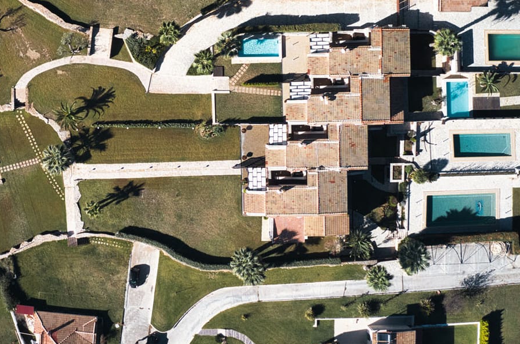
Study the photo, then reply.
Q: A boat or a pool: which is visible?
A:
pool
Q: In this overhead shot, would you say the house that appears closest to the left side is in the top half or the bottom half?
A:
bottom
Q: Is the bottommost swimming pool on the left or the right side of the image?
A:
right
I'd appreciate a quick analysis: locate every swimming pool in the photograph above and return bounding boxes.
[445,79,472,120]
[239,35,283,59]
[424,190,500,233]
[485,30,520,64]
[451,130,516,161]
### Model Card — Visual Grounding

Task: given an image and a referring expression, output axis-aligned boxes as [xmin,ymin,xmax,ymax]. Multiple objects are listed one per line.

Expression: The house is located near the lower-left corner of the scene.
[34,309,98,344]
